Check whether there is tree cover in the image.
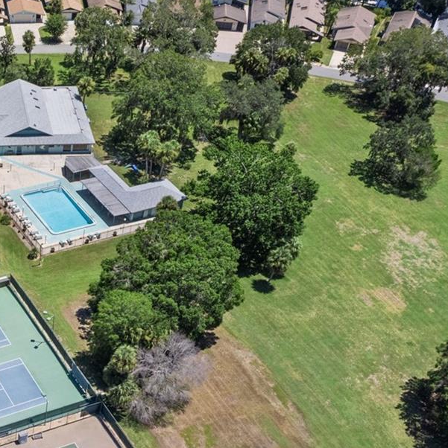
Yes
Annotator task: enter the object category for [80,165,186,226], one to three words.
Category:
building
